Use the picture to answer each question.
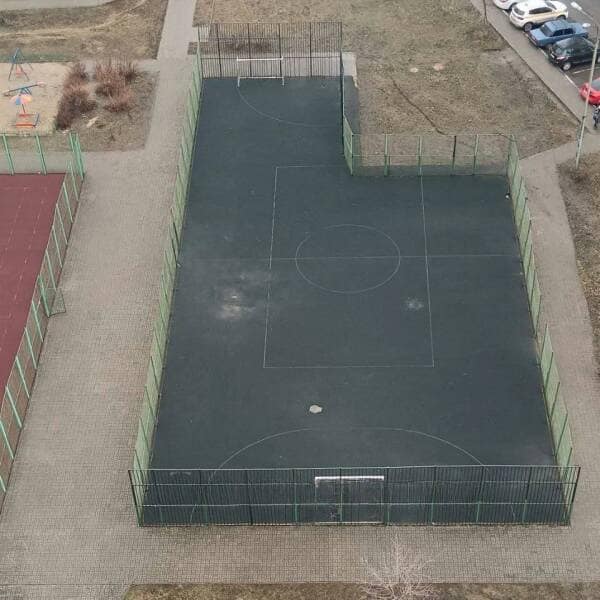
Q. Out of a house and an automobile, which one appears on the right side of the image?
automobile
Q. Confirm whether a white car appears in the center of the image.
No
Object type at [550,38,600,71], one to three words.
car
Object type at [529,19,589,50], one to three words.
car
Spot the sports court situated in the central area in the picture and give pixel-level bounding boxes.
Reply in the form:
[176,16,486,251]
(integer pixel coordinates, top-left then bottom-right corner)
[136,77,571,526]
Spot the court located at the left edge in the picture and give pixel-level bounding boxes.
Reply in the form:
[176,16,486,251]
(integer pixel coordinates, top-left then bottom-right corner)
[0,172,84,508]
